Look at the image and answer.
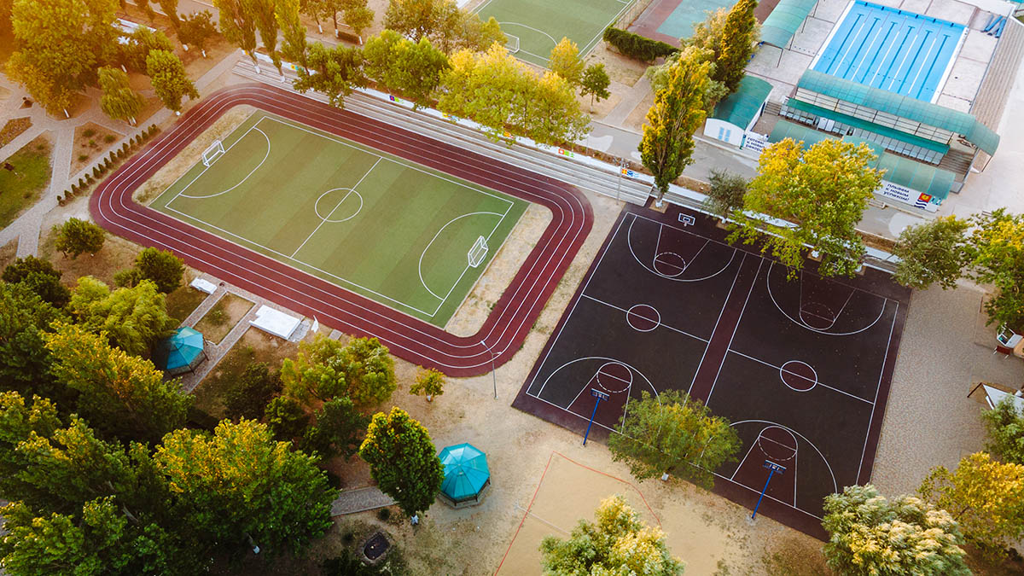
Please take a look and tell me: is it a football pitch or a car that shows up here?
football pitch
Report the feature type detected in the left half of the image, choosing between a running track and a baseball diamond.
running track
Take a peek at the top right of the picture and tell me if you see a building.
Yes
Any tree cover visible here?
Yes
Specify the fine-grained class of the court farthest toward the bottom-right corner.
basketball court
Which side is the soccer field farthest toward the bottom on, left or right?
left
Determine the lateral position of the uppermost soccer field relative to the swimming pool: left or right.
left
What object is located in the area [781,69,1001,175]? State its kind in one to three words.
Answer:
building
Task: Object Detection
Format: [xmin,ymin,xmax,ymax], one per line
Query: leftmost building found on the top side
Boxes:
[703,75,771,148]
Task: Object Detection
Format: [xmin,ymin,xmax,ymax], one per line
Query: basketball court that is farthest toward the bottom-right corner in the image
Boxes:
[685,258,898,517]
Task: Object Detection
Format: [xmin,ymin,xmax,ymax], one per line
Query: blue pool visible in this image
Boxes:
[800,0,973,107]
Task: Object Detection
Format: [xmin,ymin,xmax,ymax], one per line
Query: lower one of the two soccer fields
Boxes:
[146,107,533,332]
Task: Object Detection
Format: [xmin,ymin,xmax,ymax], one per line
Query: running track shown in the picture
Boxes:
[93,82,591,378]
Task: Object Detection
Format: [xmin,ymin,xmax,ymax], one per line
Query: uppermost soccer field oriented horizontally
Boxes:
[444,0,639,74]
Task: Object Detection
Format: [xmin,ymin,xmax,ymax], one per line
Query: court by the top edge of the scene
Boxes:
[629,0,779,71]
